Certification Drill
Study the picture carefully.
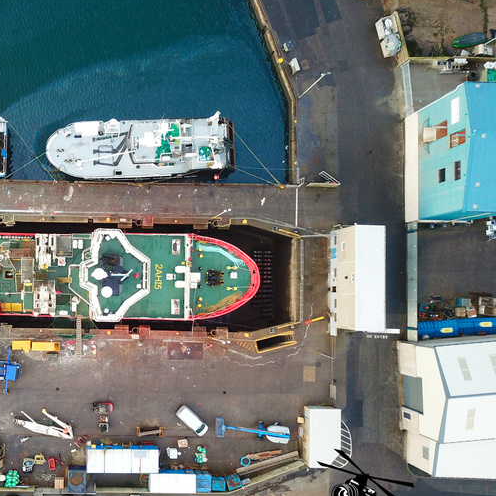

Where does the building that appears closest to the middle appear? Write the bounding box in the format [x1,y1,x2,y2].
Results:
[328,220,387,337]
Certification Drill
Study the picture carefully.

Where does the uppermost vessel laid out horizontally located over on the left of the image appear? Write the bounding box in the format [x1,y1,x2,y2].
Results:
[47,110,235,181]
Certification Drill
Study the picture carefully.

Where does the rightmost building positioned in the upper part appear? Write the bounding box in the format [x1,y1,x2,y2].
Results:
[405,79,496,220]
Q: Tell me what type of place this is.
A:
port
